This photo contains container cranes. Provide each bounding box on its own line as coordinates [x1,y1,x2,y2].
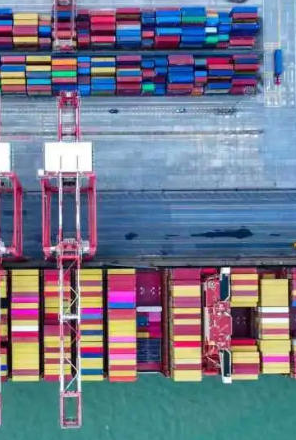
[53,0,76,56]
[36,90,96,430]
[0,90,27,430]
